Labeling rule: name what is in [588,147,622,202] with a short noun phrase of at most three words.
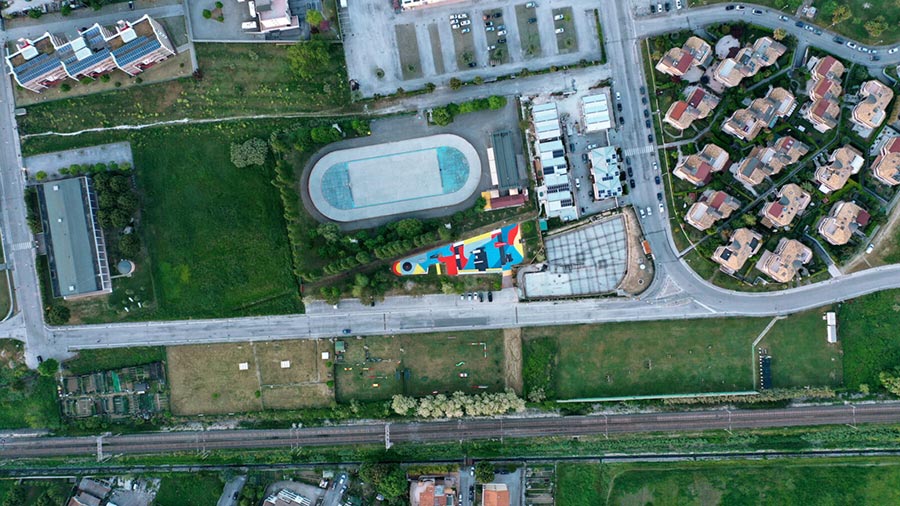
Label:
building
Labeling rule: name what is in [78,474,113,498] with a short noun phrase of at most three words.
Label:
house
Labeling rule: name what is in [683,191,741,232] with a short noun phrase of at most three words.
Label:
house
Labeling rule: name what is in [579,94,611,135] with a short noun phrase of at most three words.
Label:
building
